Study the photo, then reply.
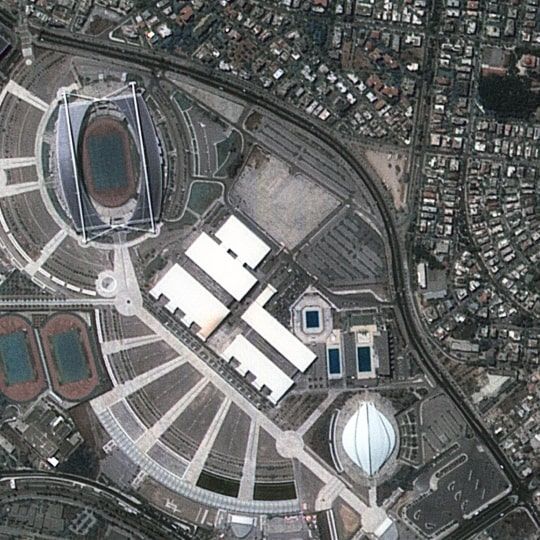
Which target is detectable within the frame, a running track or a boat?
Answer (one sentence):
This aerial view contains a running track.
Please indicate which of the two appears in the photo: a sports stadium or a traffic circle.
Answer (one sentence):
I can see a sports stadium in this picture.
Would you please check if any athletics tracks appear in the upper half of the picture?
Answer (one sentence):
Yes, an athletics track can be seen in the upper half of the picture.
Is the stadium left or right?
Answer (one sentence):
You can find the stadium on the left side of the picture.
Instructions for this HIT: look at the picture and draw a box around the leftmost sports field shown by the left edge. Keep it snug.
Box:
[0,330,35,384]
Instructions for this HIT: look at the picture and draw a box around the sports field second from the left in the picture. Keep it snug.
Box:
[52,330,89,383]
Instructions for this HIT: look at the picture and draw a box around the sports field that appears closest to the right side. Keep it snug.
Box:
[88,133,128,191]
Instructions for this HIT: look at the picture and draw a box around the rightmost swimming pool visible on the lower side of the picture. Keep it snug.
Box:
[358,345,375,378]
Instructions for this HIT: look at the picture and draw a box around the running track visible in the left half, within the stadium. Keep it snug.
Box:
[81,117,136,209]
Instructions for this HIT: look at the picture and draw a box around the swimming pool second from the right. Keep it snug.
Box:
[326,346,342,378]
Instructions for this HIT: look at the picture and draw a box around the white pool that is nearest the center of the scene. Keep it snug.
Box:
[302,306,323,334]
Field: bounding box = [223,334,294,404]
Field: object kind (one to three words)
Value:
building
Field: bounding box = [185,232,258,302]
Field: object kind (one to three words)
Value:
building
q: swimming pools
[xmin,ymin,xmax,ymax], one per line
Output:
[302,306,323,334]
[358,345,375,378]
[326,346,342,378]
